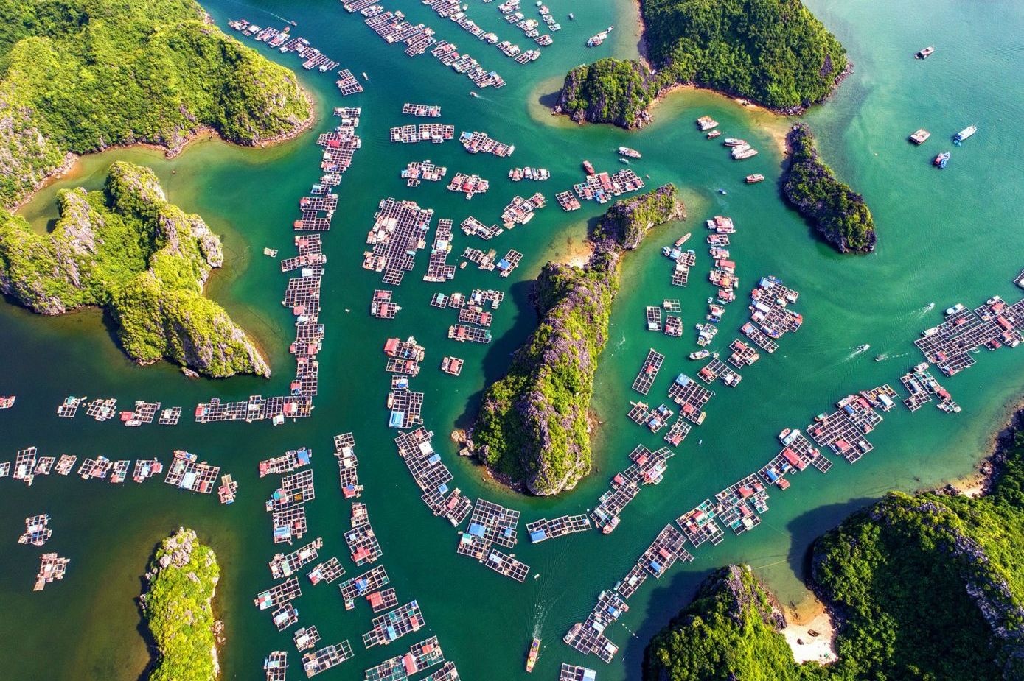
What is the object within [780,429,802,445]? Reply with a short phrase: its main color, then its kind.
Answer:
white boat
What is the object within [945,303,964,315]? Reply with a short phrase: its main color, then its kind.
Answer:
white boat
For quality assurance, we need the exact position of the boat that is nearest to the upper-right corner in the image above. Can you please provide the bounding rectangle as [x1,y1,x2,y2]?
[914,45,936,58]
